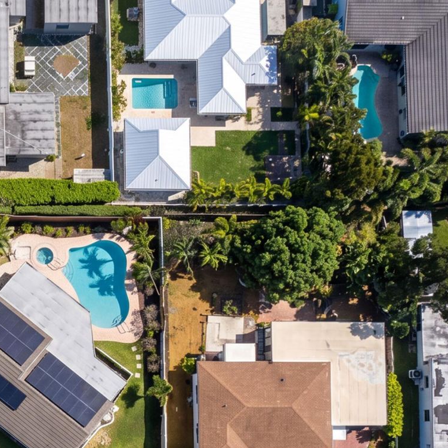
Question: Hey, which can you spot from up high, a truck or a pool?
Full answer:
Of the two, only a pool appears.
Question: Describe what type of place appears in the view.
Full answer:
This image shows a residential area.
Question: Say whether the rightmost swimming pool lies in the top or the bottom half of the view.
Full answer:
The top half of the photo is where the rightmost swimming pool is.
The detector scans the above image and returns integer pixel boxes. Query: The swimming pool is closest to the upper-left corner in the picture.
[131,76,180,109]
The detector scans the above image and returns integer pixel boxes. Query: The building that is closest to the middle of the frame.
[124,118,191,192]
